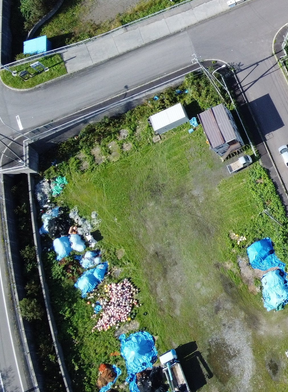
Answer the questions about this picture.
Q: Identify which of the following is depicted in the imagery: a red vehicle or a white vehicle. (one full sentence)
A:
Looking from above, you can make out a white vehicle.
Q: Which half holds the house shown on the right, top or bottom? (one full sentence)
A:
You can find the house shown on the right in the top half.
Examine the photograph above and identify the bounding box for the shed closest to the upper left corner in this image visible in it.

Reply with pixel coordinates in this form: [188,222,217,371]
[22,36,54,60]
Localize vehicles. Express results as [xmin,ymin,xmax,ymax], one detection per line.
[157,352,189,392]
[228,154,251,171]
[279,144,288,169]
